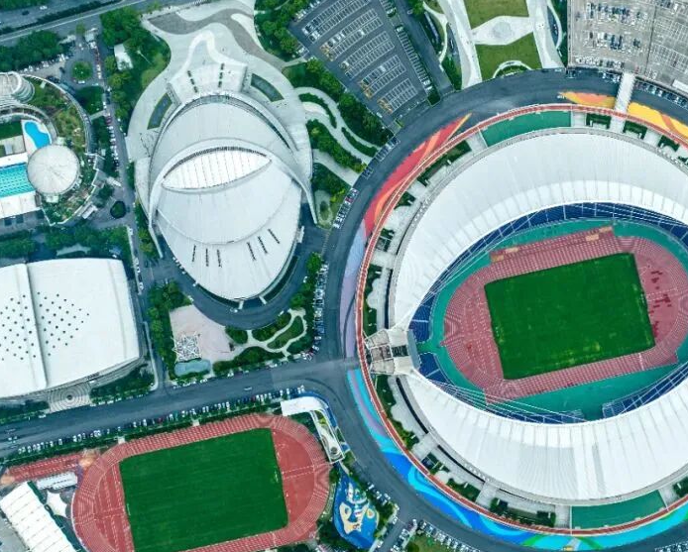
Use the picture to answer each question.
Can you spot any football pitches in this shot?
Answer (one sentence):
Yes, the picture does show a football pitch.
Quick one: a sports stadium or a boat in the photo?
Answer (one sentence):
The one in the frame is a sports stadium.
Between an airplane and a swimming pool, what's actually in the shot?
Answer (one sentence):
I can see a swimming pool in this picture.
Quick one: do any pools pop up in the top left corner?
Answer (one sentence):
Yes, you'll find a pool in the top left corner.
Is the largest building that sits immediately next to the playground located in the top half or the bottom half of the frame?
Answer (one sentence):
The largest building that sits immediately next to the playground is in the bottom half of the image.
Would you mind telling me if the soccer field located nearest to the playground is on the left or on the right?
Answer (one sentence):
The soccer field located nearest to the playground appears in the left half of the scene.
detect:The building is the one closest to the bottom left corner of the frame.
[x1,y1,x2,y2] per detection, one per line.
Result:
[37,470,79,489]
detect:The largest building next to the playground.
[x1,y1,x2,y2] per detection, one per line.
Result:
[280,389,350,463]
